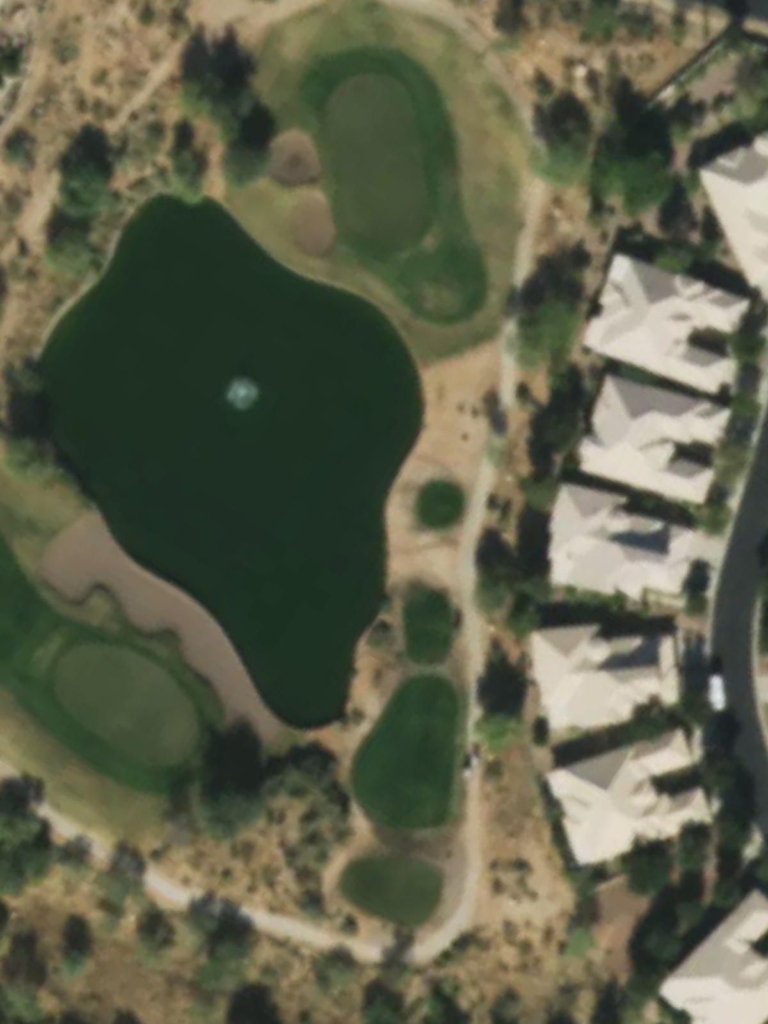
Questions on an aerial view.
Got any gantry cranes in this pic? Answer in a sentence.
No, the frame has no gantry crane in it.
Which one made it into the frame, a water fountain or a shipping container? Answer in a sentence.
This aerial view contains a water fountain.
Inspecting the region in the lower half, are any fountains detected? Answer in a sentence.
No, no fountain can be made out in the lower half.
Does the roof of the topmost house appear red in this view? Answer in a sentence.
No, the roof of the topmost house is white.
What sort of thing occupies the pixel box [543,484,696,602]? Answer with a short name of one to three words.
house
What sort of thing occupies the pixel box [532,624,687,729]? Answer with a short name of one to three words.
house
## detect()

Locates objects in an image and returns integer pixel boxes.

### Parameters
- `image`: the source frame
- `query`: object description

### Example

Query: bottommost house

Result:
[661,890,768,1024]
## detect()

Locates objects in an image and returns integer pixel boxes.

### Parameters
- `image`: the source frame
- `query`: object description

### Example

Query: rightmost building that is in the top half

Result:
[702,130,768,288]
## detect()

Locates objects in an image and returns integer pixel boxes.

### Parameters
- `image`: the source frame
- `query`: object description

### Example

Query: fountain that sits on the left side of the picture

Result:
[224,374,259,409]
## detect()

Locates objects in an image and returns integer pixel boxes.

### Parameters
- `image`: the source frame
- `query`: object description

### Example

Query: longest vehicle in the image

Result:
[708,676,726,710]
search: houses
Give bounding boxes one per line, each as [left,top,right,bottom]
[581,374,731,504]
[547,731,713,868]
[584,254,749,395]
[702,130,768,288]
[543,484,696,602]
[532,624,687,729]
[661,890,768,1024]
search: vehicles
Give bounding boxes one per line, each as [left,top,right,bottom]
[470,754,479,770]
[708,676,726,710]
[462,766,471,783]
